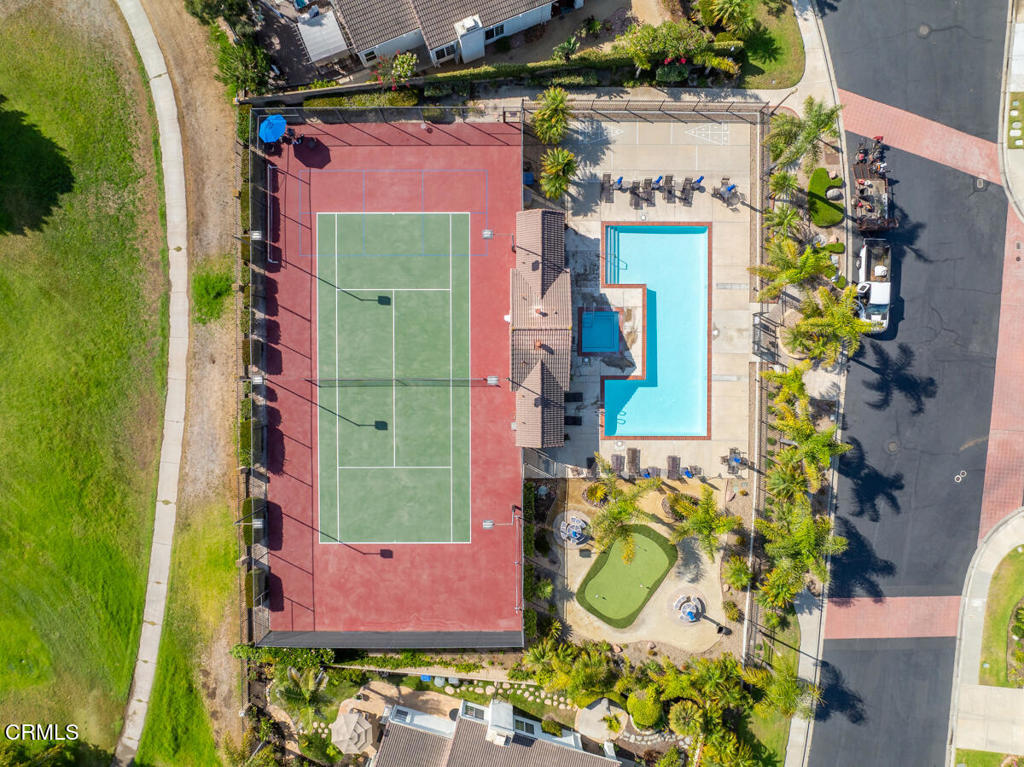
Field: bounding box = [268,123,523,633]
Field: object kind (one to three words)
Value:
tennis court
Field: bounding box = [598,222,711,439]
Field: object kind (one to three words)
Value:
swimming pool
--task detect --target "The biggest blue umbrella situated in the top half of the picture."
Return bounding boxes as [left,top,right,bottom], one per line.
[259,115,288,145]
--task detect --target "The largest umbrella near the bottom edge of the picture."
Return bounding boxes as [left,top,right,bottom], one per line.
[332,707,376,752]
